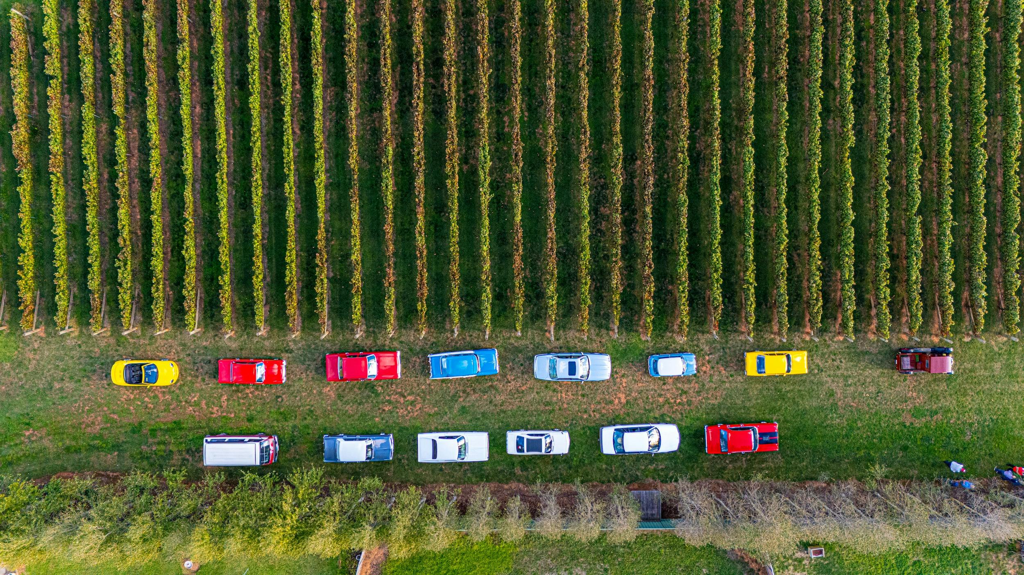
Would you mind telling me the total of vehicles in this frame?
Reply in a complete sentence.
In total, there are 14 vehicles in the scene.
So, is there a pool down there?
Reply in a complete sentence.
No, there appears to be no pool in this shot.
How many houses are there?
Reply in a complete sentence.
I count no houses.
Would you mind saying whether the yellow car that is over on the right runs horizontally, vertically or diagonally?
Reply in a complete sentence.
The yellow car that is over on the right has been laid out horizontally relative to the frame.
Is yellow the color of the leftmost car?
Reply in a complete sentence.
Yes, the leftmost car is yellow.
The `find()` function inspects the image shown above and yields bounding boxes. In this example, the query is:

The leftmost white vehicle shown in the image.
[204,436,280,468]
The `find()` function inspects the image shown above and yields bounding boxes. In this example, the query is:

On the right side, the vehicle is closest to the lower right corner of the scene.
[896,348,952,375]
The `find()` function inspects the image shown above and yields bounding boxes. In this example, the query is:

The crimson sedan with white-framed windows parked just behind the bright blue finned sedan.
[326,351,401,381]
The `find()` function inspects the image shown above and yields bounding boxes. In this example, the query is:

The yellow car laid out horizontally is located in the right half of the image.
[744,350,808,378]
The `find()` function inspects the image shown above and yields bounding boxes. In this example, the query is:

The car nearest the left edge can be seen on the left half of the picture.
[111,358,181,390]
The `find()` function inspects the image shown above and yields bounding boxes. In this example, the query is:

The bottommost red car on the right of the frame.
[704,421,779,453]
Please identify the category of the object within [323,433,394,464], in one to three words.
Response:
car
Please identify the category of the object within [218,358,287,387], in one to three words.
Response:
car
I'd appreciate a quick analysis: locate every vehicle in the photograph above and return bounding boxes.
[426,348,500,380]
[896,348,952,375]
[599,423,680,457]
[218,358,287,387]
[534,351,611,384]
[648,352,697,377]
[326,351,401,381]
[111,358,181,390]
[507,428,570,456]
[204,436,280,468]
[418,430,489,465]
[323,433,394,464]
[704,421,779,453]
[744,350,808,378]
